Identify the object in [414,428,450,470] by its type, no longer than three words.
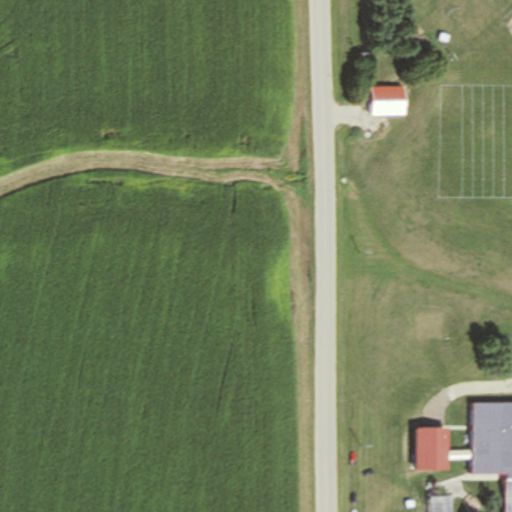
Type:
building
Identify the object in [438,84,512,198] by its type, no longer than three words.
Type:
sports field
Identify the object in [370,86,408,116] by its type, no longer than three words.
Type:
barn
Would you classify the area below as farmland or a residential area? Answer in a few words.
farmland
